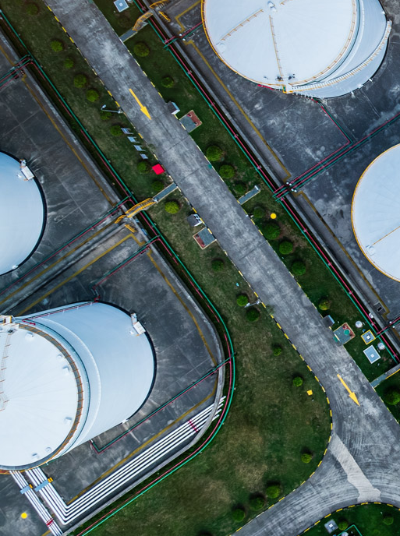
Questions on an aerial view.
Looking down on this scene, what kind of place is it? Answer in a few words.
industrial area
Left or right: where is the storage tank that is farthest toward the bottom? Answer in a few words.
left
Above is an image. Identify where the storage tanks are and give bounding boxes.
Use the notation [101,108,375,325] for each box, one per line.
[0,150,46,277]
[0,301,154,482]
[349,142,400,285]
[202,0,391,99]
